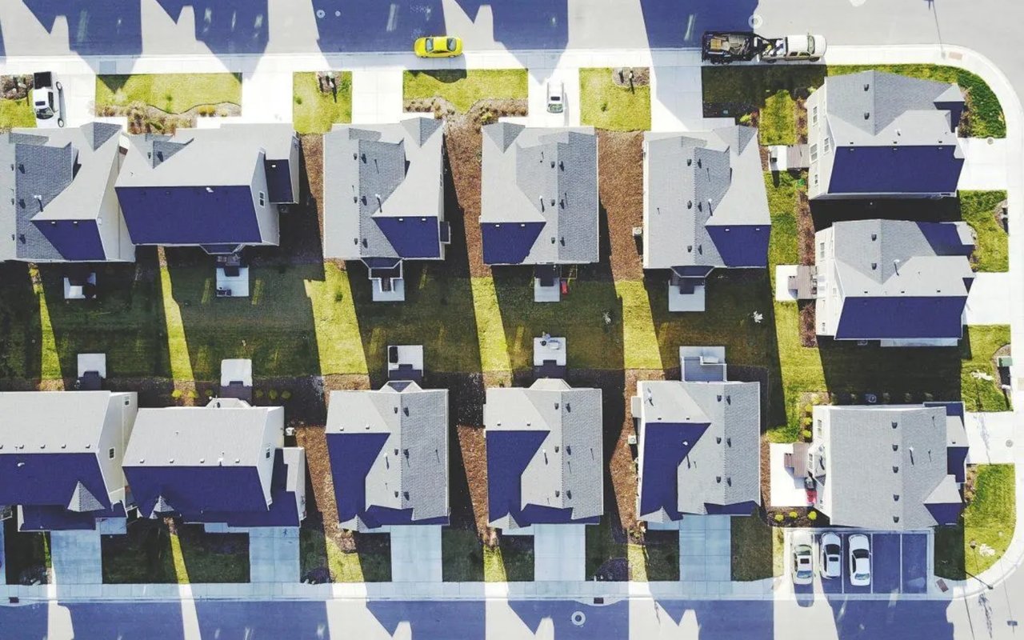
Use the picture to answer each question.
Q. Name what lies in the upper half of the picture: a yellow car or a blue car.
yellow car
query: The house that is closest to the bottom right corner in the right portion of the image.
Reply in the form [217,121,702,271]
[804,399,967,529]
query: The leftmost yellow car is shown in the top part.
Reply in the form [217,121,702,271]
[415,36,463,60]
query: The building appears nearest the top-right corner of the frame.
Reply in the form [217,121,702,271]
[807,70,963,199]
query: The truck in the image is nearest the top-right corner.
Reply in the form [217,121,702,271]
[759,32,825,59]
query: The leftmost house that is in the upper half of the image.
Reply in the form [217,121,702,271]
[0,119,136,263]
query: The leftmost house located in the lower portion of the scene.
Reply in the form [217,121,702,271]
[0,388,137,531]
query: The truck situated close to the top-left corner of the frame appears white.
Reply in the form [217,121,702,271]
[31,72,61,127]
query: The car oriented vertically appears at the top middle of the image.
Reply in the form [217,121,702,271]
[544,78,567,129]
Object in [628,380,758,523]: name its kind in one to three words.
house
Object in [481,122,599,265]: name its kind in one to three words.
house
